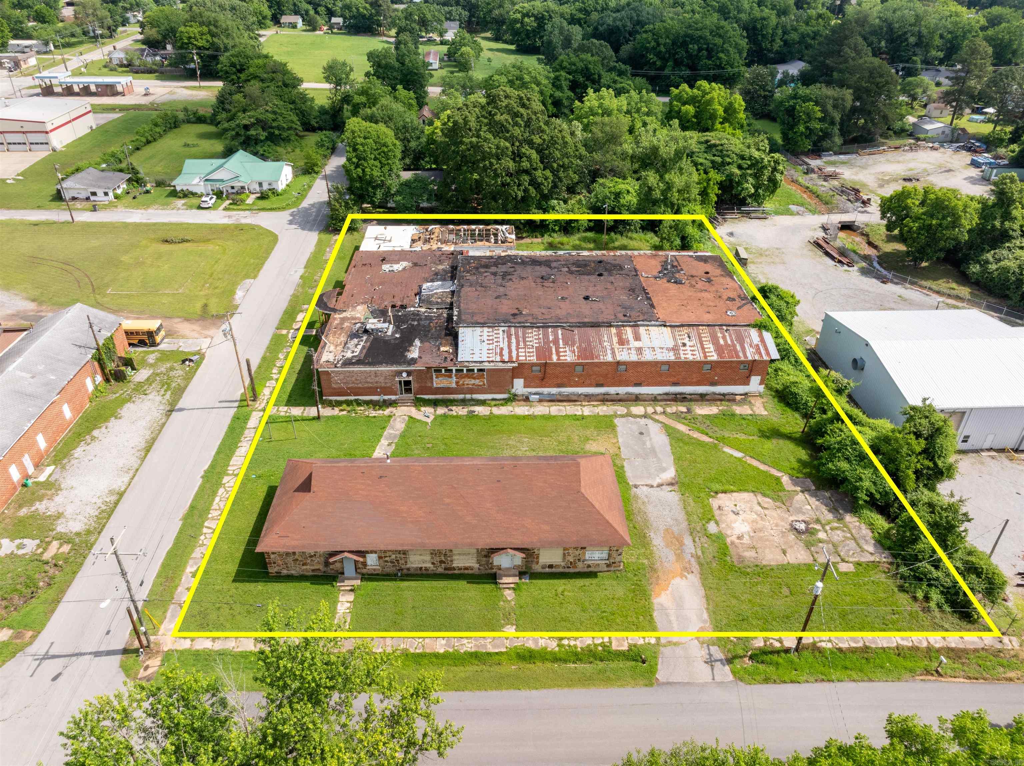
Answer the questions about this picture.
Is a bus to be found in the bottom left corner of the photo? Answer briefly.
No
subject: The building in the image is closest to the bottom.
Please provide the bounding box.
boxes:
[255,448,633,597]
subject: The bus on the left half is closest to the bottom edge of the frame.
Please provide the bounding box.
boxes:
[122,317,166,346]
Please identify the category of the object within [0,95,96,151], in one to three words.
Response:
building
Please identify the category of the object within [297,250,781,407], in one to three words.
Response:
building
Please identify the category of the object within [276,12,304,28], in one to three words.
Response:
house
